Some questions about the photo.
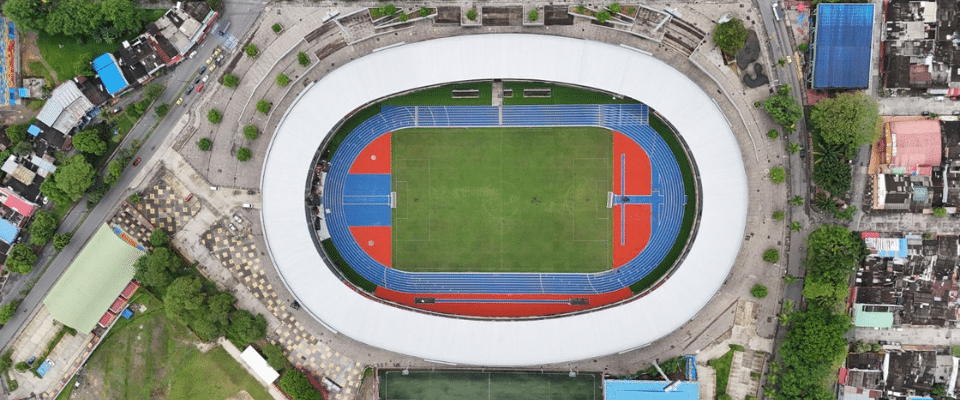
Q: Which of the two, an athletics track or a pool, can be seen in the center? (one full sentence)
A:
What appears in the center is an athletics track.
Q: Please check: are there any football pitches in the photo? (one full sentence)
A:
Yes, you can see a football pitch in this photo.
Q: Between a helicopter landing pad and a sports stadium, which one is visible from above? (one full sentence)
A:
This aerial view contains a sports stadium.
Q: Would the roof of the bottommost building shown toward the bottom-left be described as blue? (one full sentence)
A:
No, from above the roof of the bottommost building shown toward the bottom-left looks white.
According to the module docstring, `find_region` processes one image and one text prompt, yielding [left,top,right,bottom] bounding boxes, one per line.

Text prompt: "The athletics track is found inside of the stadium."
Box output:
[323,104,682,317]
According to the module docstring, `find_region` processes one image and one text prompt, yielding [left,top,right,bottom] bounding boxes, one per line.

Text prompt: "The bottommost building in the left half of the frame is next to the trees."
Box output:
[239,345,280,385]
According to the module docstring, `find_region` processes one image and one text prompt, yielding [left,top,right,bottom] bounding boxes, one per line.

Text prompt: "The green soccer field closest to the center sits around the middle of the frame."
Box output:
[392,128,613,271]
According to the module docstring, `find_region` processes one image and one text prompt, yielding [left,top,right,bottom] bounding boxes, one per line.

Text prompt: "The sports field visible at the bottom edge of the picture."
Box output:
[377,368,605,400]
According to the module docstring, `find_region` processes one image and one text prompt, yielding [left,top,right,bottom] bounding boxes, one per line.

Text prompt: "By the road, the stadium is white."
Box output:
[260,34,748,367]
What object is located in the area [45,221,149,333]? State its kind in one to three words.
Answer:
building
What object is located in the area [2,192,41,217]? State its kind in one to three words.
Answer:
house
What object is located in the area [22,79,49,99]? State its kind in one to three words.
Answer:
building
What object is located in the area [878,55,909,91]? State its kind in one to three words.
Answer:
house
